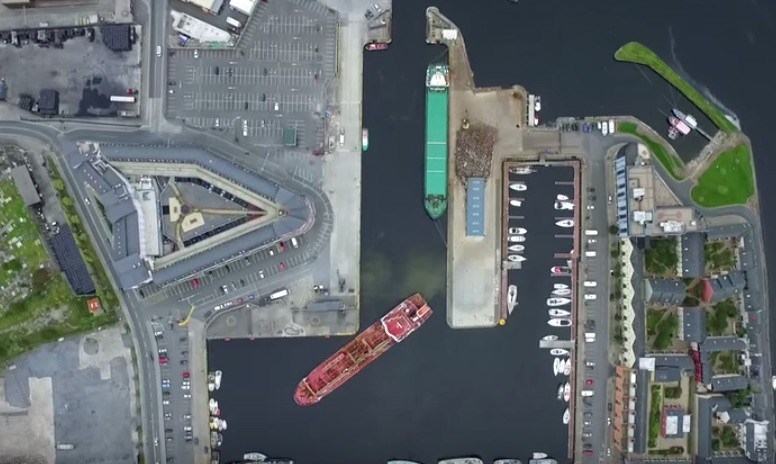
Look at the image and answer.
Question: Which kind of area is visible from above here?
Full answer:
It's a port.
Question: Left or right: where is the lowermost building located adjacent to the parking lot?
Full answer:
The lowermost building located adjacent to the parking lot sits on the left side.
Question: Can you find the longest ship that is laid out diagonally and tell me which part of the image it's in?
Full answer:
The longest ship that is laid out diagonally sits in the bottom section of the image.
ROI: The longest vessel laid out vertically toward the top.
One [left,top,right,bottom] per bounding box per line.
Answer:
[424,64,448,220]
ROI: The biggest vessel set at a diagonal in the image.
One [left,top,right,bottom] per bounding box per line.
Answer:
[293,293,432,406]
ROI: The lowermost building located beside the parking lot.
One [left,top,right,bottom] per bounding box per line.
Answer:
[74,141,313,290]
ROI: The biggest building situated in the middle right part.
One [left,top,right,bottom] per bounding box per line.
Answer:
[616,160,695,236]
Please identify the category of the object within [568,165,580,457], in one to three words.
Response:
pier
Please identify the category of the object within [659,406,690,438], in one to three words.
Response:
building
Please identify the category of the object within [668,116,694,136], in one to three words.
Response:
boat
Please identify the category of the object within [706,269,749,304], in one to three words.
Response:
house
